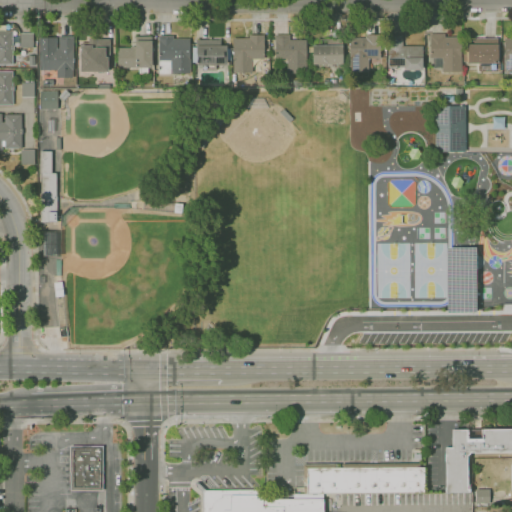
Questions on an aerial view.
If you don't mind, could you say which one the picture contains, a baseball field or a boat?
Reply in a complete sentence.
There is a baseball field in the scene.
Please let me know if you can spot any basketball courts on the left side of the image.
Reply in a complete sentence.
No, no basketball court appears on the left side of the image.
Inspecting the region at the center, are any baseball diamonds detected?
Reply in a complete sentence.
Yes, at the center there is a baseball diamond.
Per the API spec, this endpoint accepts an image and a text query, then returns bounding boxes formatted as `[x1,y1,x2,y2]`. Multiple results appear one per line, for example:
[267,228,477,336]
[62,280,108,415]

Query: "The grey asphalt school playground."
[371,107,512,310]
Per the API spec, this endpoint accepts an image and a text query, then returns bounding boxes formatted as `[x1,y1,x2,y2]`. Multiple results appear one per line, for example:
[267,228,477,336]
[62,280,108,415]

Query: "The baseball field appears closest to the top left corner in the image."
[62,90,208,205]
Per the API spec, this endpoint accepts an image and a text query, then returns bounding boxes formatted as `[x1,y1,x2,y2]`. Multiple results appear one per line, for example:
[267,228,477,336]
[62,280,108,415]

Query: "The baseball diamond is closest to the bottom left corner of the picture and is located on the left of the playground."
[62,207,210,350]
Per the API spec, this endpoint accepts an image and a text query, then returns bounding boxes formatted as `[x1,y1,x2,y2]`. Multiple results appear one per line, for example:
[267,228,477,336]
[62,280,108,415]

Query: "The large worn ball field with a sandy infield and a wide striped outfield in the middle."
[166,90,369,348]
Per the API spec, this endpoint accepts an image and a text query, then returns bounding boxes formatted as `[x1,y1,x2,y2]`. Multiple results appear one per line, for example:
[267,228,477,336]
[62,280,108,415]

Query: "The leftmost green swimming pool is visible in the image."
[202,72,224,84]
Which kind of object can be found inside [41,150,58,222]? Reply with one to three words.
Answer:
building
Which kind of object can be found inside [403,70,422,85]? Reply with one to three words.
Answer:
swimming pool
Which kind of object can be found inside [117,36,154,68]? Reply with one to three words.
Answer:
house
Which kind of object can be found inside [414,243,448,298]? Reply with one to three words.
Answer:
basketball court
